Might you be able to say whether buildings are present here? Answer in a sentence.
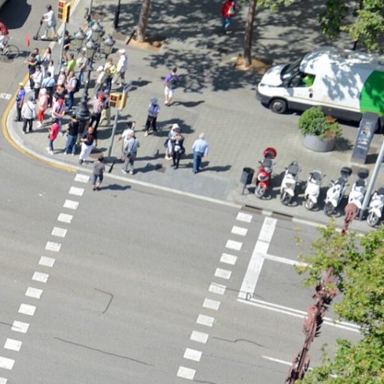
No, I find no building anywhere in the image.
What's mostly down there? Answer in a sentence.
Most of the picture is covered by paved ground.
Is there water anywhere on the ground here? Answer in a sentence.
No, the picture contains no water.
